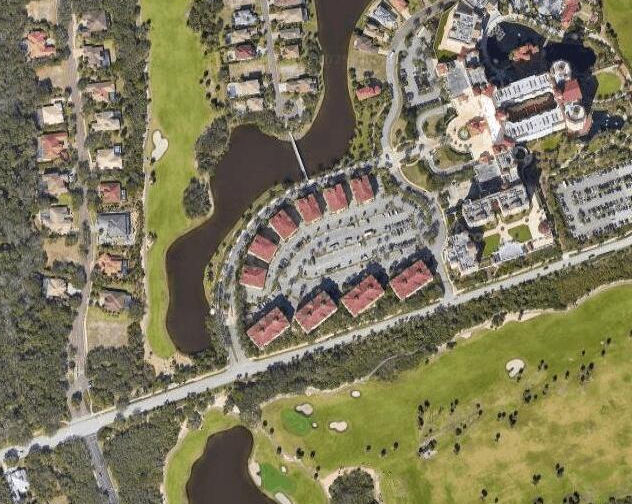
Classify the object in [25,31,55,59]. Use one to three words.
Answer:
house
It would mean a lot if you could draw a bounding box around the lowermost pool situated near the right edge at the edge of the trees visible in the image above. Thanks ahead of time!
[593,110,625,131]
